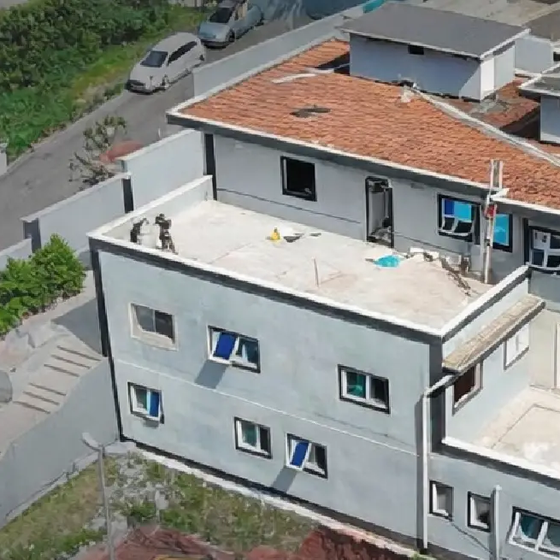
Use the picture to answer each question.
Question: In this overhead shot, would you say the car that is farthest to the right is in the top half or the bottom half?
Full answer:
The car that is farthest to the right is in the top half of the image.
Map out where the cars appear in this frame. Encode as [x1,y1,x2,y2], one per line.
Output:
[191,0,270,51]
[119,30,207,98]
